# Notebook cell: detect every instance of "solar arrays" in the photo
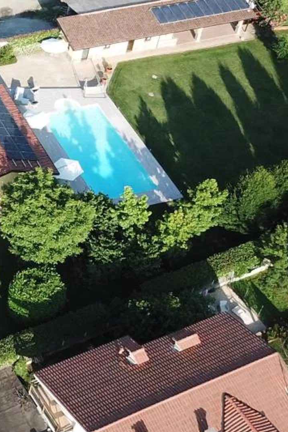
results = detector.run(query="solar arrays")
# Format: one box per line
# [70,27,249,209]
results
[152,0,251,25]
[0,96,37,161]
